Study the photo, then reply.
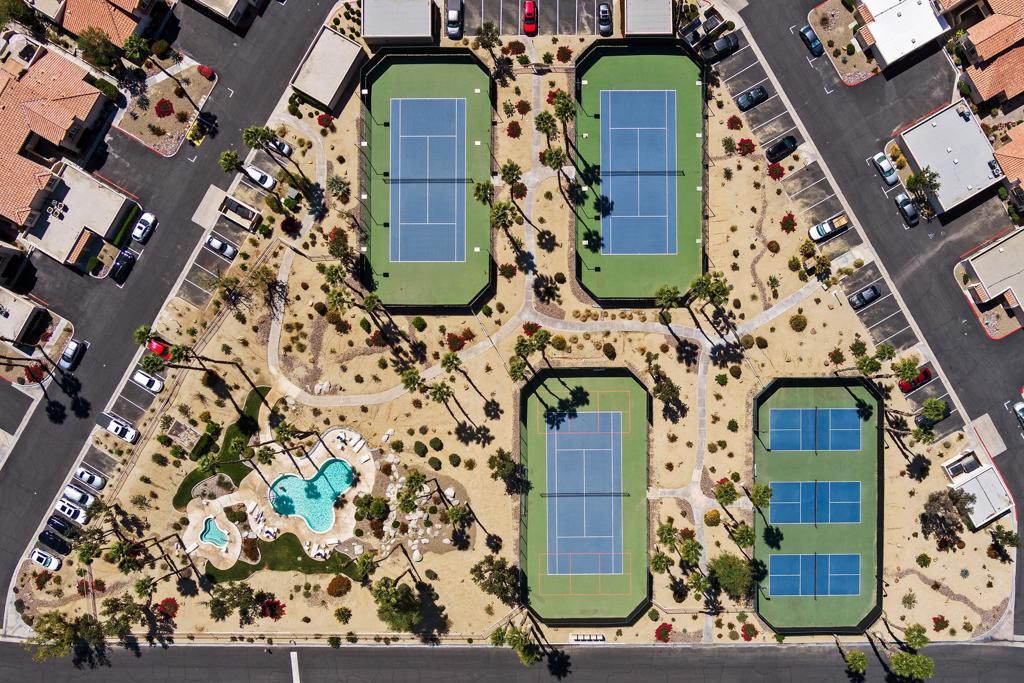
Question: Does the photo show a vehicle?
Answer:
Yes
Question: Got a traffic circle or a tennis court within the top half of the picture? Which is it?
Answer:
tennis court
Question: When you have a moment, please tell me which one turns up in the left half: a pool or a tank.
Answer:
pool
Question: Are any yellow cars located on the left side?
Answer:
No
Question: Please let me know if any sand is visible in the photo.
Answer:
Yes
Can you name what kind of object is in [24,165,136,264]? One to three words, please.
building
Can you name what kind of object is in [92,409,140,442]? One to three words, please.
truck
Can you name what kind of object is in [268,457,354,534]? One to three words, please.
swimming pool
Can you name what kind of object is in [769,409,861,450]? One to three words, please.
sports court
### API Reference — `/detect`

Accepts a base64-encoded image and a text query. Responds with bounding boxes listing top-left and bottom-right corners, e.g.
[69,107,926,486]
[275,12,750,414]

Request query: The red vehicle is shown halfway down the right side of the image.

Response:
[897,368,932,394]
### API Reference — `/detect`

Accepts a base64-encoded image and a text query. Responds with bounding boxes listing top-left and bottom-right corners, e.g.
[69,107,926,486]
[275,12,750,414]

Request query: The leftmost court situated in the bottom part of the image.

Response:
[522,369,648,618]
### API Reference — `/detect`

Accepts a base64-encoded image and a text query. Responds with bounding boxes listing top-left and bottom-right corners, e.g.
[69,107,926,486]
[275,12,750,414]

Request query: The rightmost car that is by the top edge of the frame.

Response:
[799,24,825,58]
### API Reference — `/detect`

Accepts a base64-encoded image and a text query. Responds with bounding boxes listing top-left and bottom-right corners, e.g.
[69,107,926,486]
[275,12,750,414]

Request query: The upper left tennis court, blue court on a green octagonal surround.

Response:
[366,55,489,304]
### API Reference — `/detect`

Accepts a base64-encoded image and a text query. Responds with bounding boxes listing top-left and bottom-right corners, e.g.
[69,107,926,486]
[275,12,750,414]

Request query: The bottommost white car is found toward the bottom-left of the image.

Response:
[29,546,64,571]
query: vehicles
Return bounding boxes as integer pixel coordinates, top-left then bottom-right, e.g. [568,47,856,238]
[269,135,296,160]
[897,368,932,394]
[893,192,920,226]
[110,249,136,283]
[38,528,73,555]
[60,337,86,371]
[45,513,81,539]
[143,339,174,362]
[1006,398,1024,432]
[29,546,64,571]
[914,409,949,427]
[55,498,90,524]
[73,465,108,491]
[132,369,164,394]
[735,85,769,111]
[799,24,825,58]
[523,0,538,35]
[764,137,798,163]
[62,481,98,509]
[132,210,158,244]
[872,151,897,186]
[598,3,613,38]
[447,0,463,40]
[846,285,881,310]
[92,409,140,442]
[806,212,849,243]
[699,33,741,63]
[205,235,239,261]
